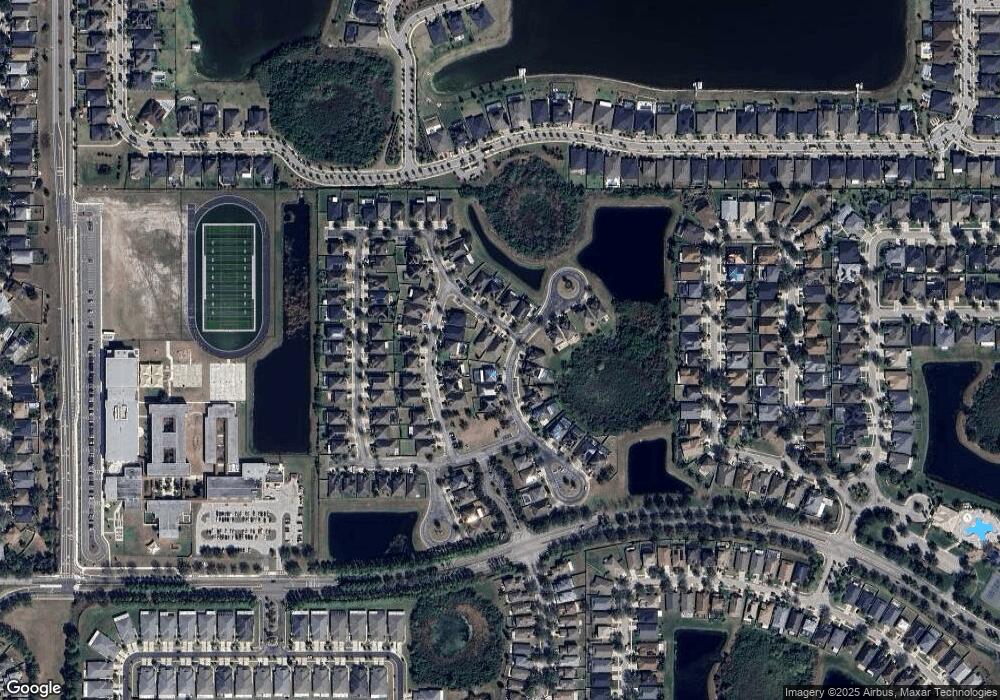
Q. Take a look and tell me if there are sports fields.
Yes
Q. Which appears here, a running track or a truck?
running track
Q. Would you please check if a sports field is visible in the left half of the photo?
Yes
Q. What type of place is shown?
residential area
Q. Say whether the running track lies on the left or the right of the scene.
left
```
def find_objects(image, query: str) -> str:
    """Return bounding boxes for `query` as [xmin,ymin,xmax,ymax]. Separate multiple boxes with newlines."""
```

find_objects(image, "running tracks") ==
[185,195,271,358]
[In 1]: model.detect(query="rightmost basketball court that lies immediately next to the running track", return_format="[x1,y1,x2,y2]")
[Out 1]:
[211,363,245,401]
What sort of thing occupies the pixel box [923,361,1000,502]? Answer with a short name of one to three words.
pond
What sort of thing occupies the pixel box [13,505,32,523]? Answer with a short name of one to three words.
house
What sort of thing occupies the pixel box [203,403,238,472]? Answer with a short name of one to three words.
building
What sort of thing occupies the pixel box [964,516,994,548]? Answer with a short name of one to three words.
swimming pool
